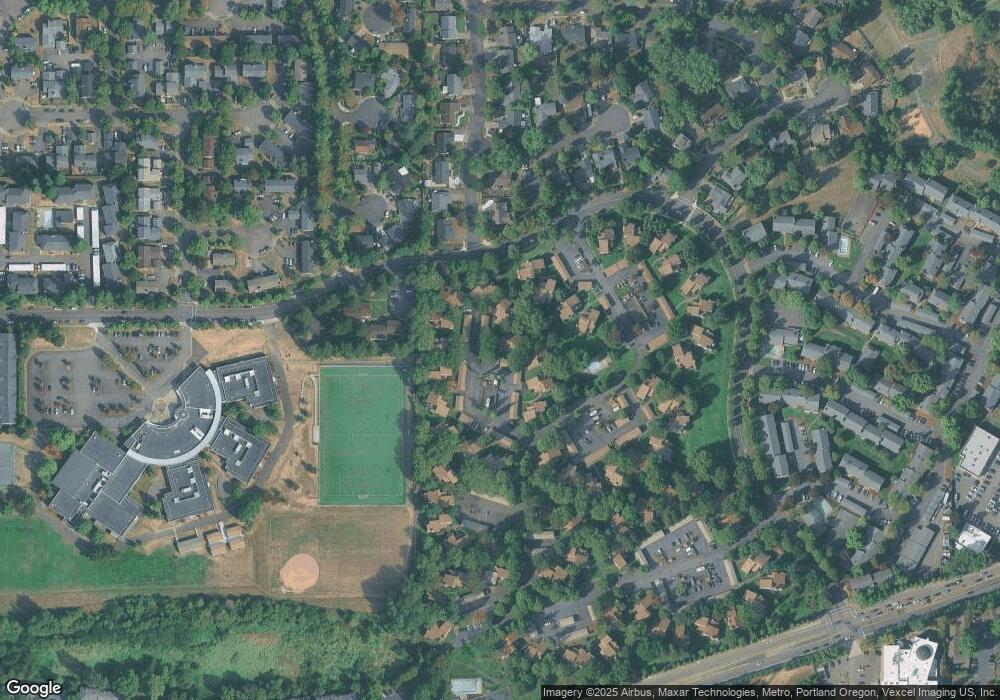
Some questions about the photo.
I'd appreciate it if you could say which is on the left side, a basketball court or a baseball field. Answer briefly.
baseball field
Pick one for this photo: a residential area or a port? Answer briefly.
residential area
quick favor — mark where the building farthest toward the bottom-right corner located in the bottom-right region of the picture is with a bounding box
[882,638,940,700]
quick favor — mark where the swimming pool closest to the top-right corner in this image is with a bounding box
[836,235,850,255]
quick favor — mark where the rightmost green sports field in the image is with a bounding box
[317,364,407,506]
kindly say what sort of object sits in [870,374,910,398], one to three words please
building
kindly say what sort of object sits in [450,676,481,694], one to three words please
swimming pool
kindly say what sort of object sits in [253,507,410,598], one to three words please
baseball field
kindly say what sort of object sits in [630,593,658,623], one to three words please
house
